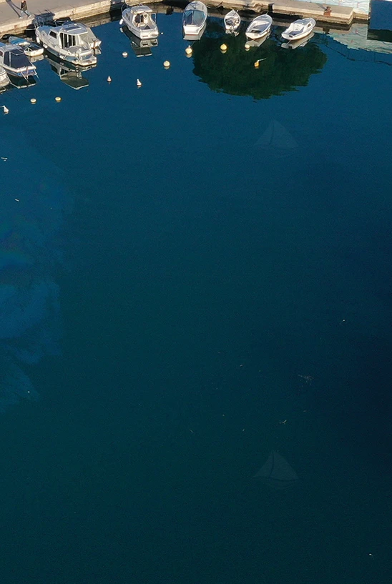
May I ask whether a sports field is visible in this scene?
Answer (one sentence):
No, there appears to be no sports field in this shot.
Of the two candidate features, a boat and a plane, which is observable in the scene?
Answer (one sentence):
Of the two, only a boat appears.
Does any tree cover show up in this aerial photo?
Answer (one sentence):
No, tree cover can't be seen anywhere here.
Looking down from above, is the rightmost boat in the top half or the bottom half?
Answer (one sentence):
The rightmost boat sits in the top half of the picture.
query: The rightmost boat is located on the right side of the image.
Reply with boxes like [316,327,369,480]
[279,19,312,42]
